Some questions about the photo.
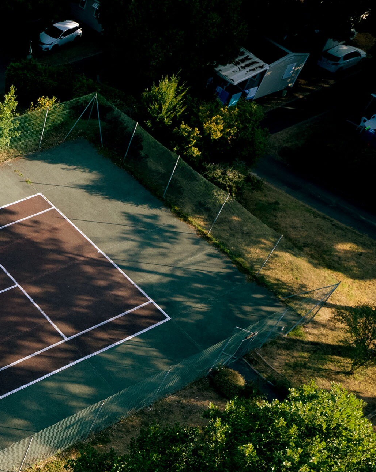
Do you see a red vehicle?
No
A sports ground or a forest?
sports ground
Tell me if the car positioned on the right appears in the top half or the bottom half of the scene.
top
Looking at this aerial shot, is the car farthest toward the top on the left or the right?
left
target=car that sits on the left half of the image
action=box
[32,19,92,56]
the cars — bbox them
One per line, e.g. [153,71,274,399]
[32,19,92,56]
[307,41,375,73]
